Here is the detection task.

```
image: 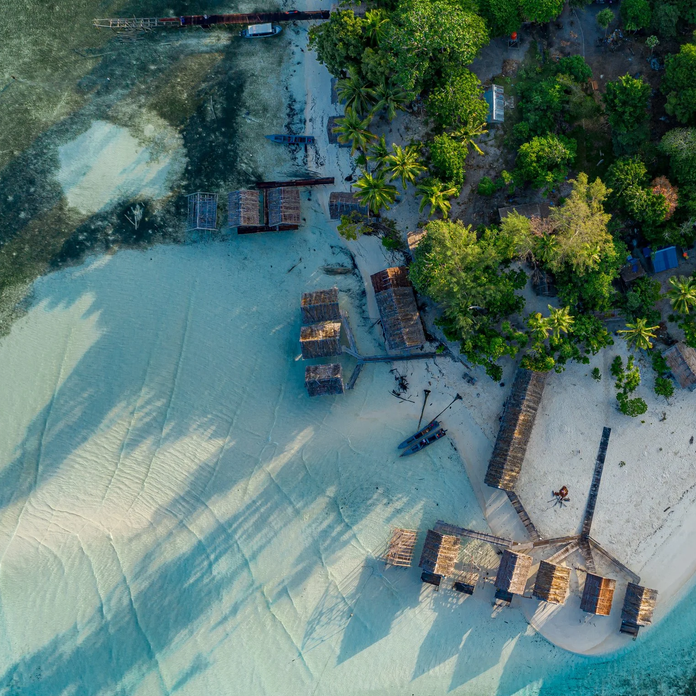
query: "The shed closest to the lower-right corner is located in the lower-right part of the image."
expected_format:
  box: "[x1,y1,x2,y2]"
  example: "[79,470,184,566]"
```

[618,579,659,639]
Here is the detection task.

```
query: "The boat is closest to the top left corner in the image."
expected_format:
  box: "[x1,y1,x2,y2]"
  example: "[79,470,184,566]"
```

[239,20,283,41]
